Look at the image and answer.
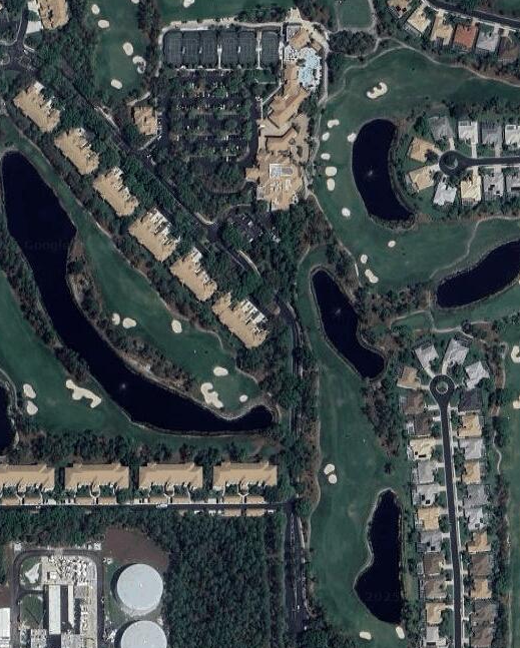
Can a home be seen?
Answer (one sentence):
Yes, I can see a home in this picture.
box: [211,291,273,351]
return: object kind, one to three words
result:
building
